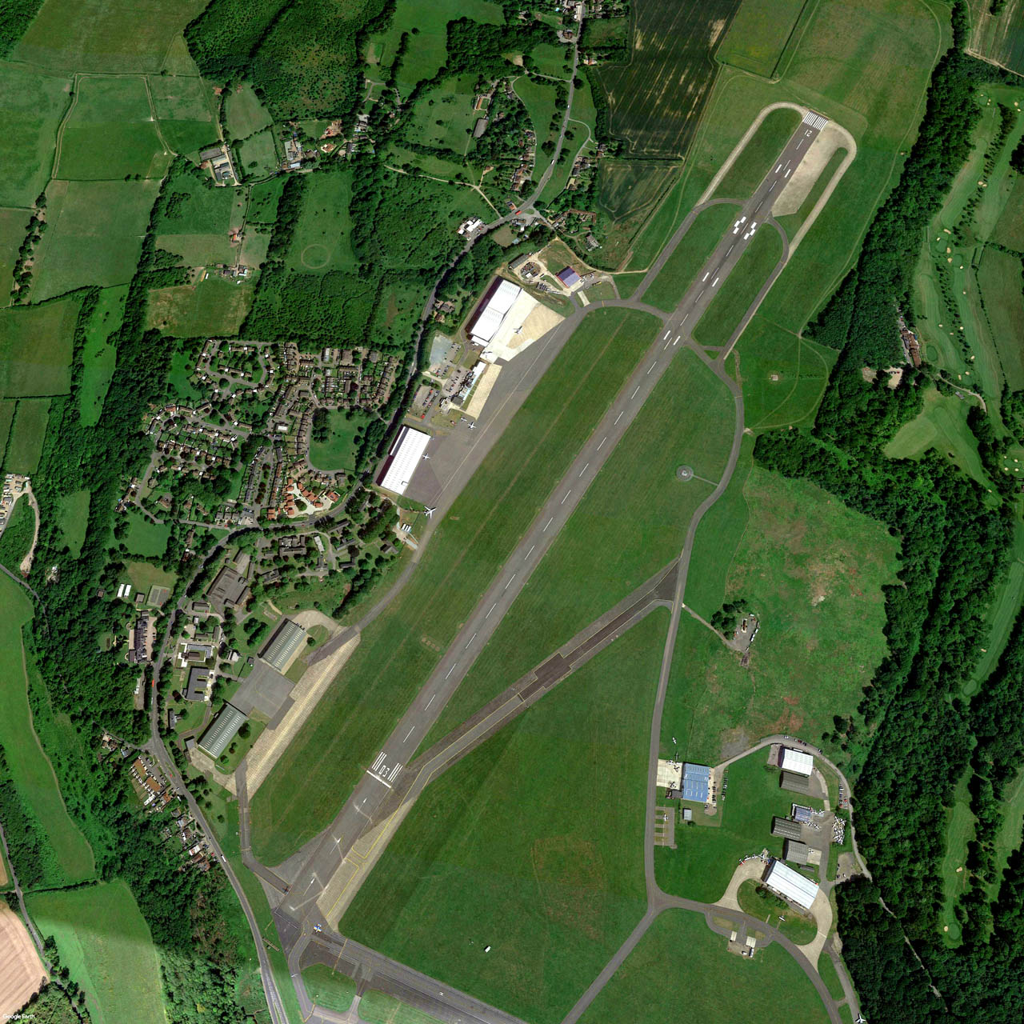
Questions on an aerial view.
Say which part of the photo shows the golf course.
right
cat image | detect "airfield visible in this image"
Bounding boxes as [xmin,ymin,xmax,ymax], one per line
[190,71,912,1024]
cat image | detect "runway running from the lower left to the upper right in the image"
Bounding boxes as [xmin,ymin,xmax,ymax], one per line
[275,109,830,928]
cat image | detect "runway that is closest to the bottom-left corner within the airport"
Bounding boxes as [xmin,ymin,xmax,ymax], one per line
[272,904,535,1024]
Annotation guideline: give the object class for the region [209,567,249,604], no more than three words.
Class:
building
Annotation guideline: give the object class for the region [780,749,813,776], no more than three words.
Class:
hangar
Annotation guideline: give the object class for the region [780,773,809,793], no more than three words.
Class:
hangar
